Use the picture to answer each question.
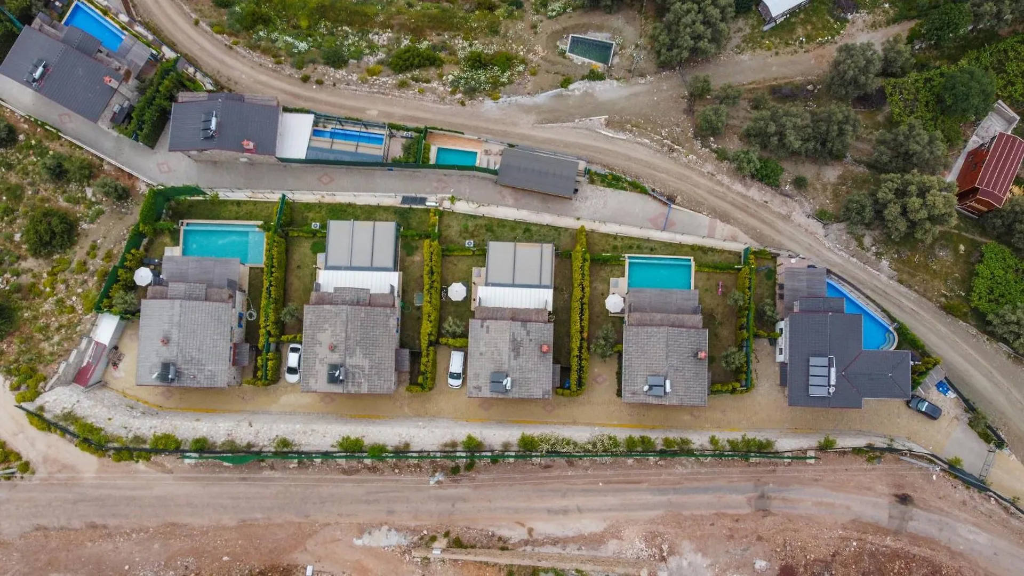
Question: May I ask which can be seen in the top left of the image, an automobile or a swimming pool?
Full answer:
You can see a swimming pool in the top left of the image.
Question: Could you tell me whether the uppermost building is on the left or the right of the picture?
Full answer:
The uppermost building is on the right side of the image.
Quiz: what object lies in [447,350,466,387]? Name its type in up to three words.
car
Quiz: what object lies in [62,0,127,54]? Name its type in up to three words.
swimming pool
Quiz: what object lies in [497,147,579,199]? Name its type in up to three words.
house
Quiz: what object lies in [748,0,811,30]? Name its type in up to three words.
building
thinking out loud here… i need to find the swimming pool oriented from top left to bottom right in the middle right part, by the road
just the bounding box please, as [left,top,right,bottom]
[826,280,899,350]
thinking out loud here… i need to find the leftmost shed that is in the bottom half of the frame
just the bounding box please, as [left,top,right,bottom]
[67,313,121,387]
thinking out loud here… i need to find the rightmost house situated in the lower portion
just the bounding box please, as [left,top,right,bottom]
[773,297,912,409]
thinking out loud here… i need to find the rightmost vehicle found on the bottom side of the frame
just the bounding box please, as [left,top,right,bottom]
[904,394,943,421]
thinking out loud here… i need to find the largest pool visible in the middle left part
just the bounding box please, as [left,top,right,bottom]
[180,220,267,267]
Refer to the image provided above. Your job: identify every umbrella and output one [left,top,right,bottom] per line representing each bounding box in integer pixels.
[136,267,157,285]
[448,282,466,300]
[605,294,623,312]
